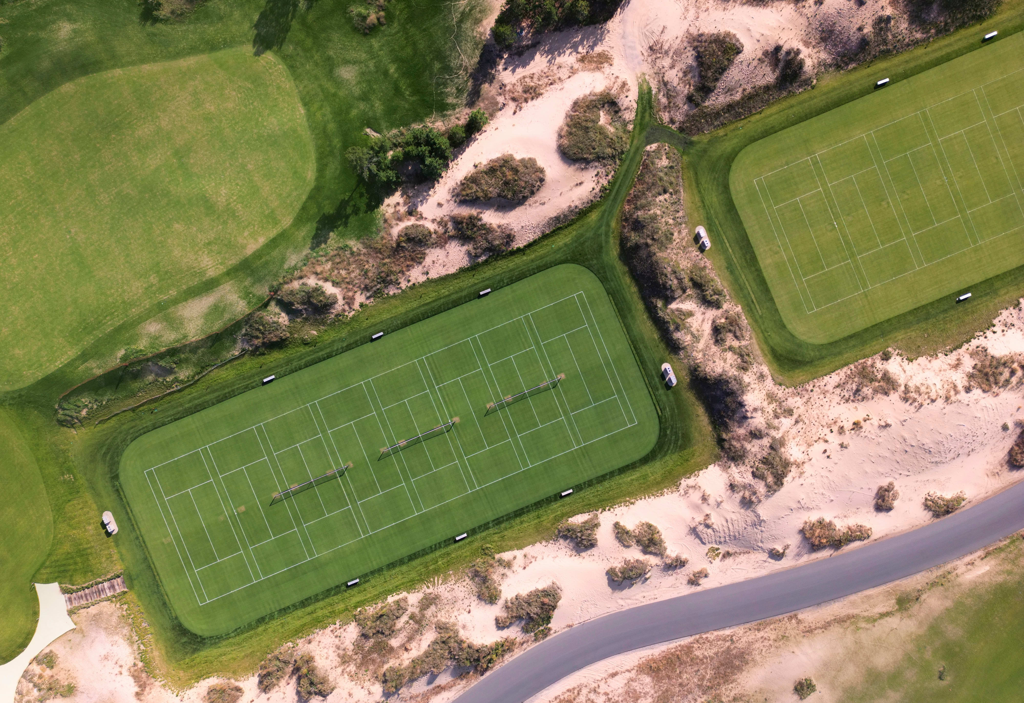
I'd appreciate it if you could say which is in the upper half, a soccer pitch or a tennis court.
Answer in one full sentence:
The feature located in the upper half is a tennis court.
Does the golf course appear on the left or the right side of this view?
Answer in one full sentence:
You can find the golf course on the left side of the picture.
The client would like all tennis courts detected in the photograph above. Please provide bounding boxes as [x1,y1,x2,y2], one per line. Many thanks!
[359,361,468,516]
[467,317,575,471]
[862,113,970,269]
[808,136,916,291]
[306,383,414,538]
[145,450,254,605]
[916,91,1023,247]
[252,405,361,561]
[413,339,522,494]
[198,428,307,583]
[755,158,862,313]
[521,291,637,449]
